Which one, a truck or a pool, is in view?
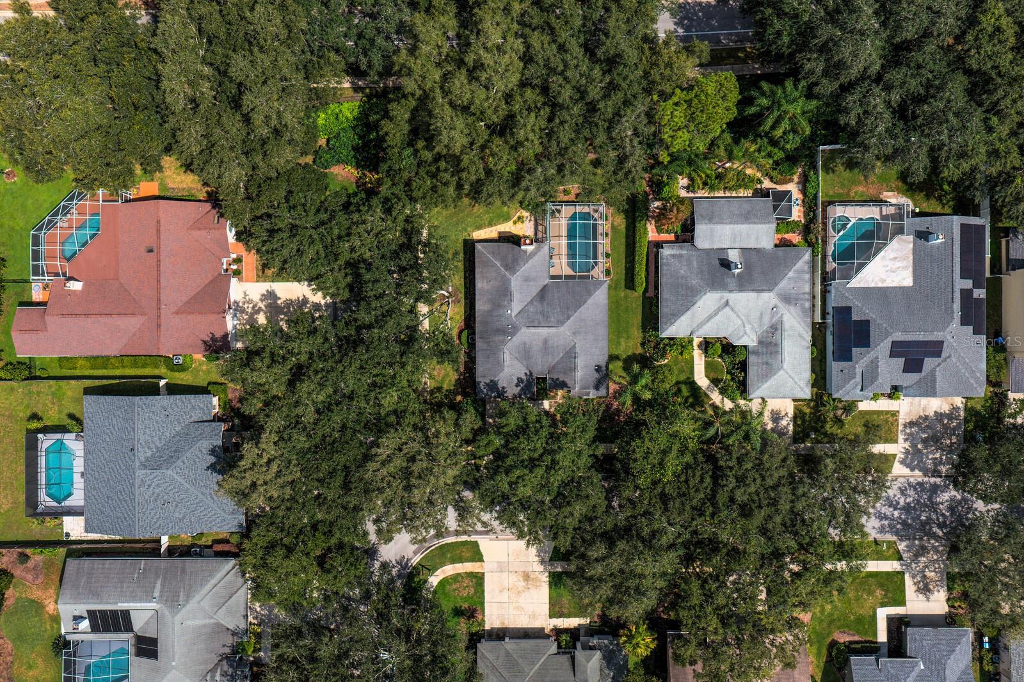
pool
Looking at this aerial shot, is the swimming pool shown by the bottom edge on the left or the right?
left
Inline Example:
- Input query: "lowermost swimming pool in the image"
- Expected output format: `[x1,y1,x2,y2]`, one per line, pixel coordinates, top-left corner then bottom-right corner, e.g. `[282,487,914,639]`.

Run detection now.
[85,645,133,682]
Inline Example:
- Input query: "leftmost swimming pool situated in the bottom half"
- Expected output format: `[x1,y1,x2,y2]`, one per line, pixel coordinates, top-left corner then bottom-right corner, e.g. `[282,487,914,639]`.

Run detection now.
[43,437,78,507]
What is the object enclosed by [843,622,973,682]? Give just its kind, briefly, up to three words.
house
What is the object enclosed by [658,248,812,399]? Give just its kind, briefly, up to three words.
house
